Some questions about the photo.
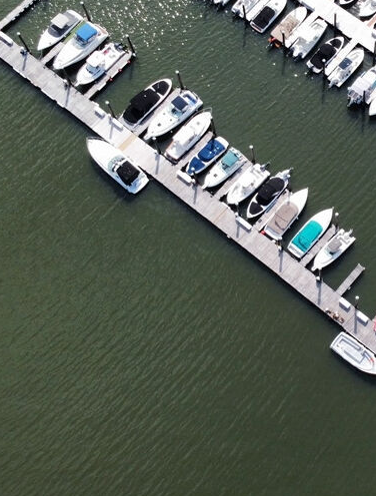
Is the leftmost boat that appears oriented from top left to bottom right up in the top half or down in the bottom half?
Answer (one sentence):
The leftmost boat that appears oriented from top left to bottom right is in the top half of the image.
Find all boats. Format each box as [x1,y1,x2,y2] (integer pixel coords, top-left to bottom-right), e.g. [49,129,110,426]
[86,136,155,199]
[271,5,307,44]
[308,35,343,74]
[355,0,376,16]
[250,0,287,35]
[161,112,211,169]
[232,0,261,19]
[260,187,308,241]
[138,92,206,148]
[182,135,232,174]
[220,164,271,203]
[121,78,171,130]
[33,11,84,51]
[327,44,363,89]
[197,149,247,195]
[66,44,126,90]
[351,65,376,101]
[48,22,111,76]
[331,333,376,374]
[309,230,355,273]
[284,209,332,263]
[244,174,287,218]
[290,18,328,59]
